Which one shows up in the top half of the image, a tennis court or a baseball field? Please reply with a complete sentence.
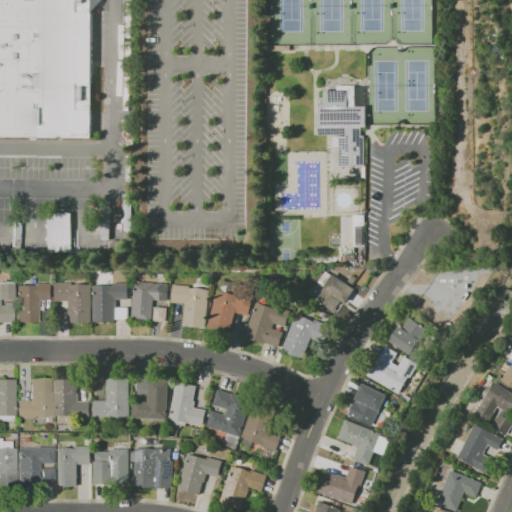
The one visible in the top half of the image is a tennis court.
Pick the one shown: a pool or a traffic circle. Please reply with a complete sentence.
Looking from above, you can make out a pool.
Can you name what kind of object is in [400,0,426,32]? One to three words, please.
tennis court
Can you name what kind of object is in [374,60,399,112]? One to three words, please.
tennis court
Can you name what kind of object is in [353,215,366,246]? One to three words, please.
building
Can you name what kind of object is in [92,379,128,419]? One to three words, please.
house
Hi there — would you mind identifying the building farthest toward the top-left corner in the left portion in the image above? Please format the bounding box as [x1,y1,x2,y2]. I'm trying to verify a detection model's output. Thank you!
[0,0,104,140]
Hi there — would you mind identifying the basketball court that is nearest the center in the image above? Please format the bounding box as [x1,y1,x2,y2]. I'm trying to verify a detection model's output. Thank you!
[270,219,300,262]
